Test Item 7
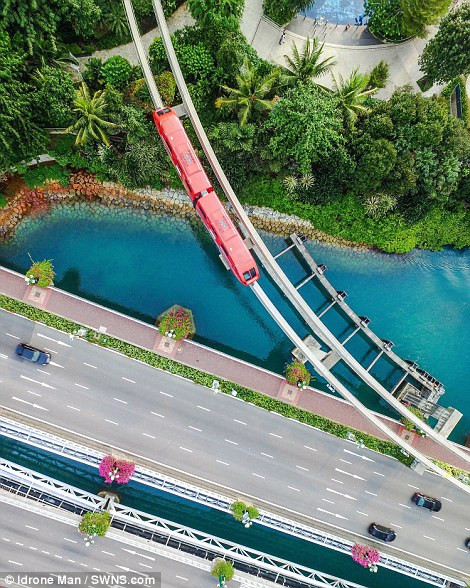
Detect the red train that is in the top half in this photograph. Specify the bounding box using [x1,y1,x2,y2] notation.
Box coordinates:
[155,107,257,287]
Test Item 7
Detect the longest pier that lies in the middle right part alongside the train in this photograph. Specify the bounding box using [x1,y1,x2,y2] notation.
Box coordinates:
[273,233,448,396]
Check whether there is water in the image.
Yes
